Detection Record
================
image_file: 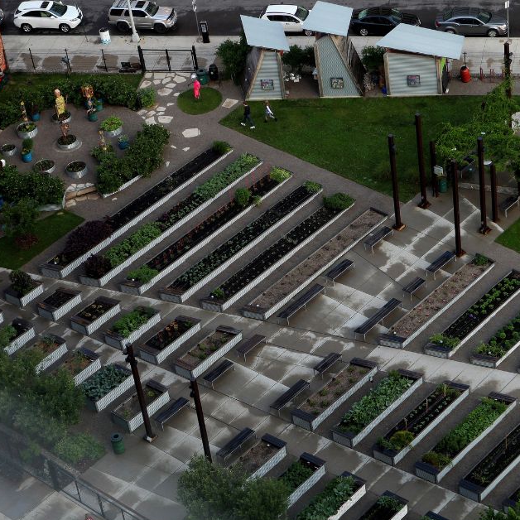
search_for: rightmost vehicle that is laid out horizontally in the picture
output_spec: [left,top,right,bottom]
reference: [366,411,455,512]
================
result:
[436,2,510,33]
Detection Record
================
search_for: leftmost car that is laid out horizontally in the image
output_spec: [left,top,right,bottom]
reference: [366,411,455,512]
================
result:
[11,0,83,31]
